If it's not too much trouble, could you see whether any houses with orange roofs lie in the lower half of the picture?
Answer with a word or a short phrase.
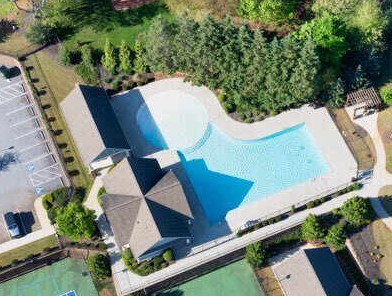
No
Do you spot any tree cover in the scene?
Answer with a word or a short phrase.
Yes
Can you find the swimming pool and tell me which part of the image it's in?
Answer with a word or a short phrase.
center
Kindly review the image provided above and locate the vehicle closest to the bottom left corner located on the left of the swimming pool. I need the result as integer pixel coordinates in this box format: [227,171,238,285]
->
[1,210,22,240]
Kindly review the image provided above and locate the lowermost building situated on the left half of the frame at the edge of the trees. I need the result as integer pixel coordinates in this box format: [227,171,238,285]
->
[100,157,194,263]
